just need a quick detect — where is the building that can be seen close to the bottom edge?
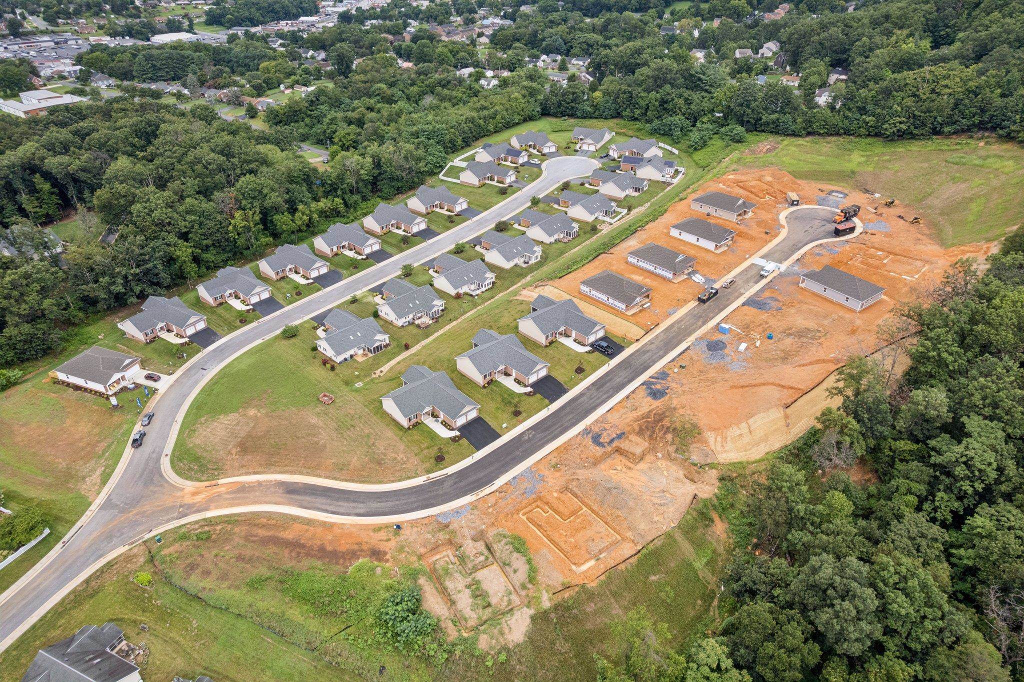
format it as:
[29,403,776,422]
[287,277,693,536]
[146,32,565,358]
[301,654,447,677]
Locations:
[30,623,147,682]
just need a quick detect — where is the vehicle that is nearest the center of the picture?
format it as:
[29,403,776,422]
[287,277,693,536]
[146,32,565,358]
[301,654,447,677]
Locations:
[593,339,616,352]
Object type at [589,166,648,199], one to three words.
house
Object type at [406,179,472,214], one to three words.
house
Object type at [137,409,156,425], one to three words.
car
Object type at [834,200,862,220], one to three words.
vehicle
